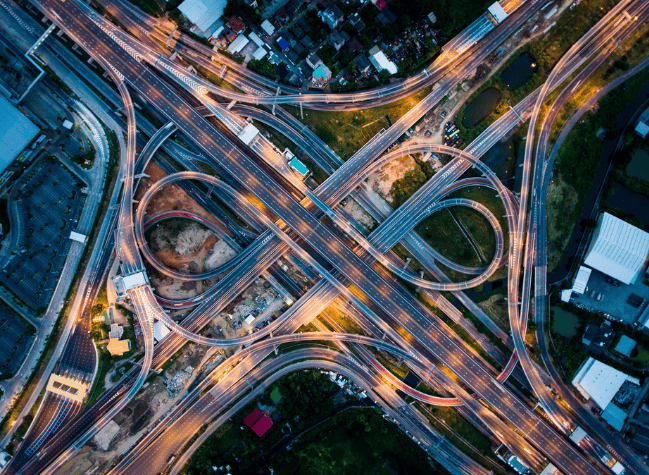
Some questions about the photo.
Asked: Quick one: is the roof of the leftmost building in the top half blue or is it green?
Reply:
blue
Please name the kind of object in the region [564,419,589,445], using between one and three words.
toll station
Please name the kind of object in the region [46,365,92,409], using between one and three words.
toll station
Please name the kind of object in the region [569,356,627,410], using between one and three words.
building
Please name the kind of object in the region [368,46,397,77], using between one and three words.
house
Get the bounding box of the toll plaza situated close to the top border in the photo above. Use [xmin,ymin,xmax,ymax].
[480,0,511,29]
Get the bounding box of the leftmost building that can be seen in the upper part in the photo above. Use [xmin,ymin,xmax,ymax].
[0,82,51,178]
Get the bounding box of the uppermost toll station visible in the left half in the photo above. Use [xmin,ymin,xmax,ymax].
[235,120,266,150]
